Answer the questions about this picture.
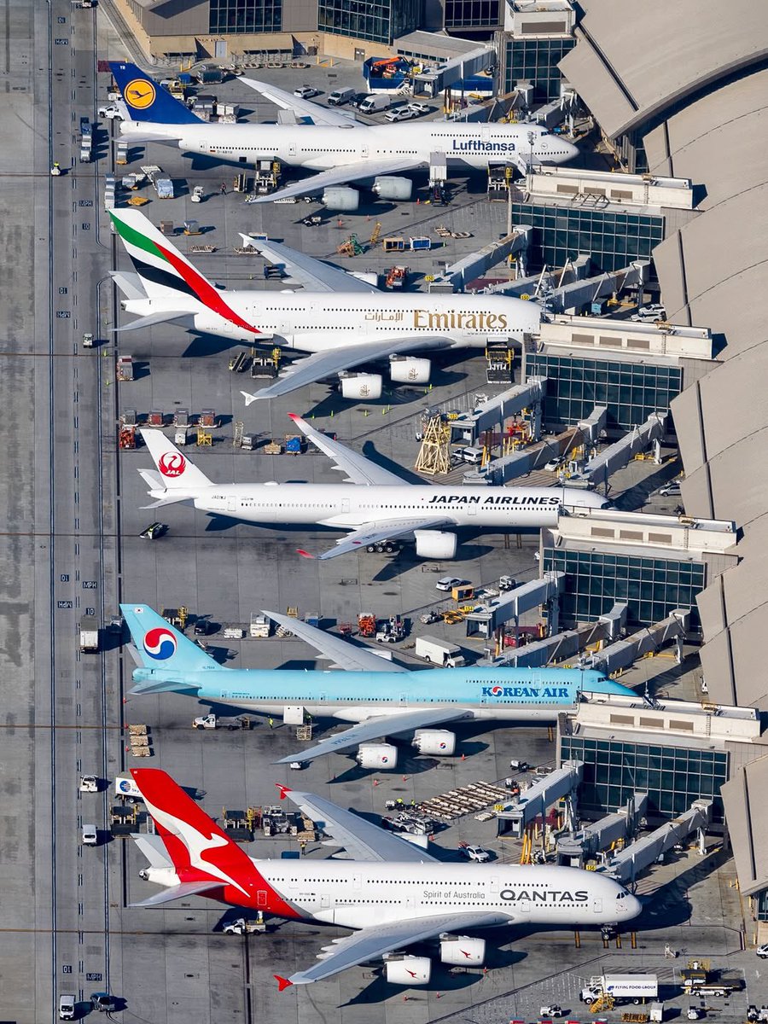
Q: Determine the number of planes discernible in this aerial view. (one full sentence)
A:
There are 5 planes in the image.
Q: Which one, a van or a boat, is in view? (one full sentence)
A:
Of the two, only a van appears.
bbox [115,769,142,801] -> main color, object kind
white truck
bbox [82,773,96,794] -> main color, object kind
white vehicle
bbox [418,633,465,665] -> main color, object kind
white van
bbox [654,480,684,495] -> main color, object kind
gray car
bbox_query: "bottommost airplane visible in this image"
[130,769,639,990]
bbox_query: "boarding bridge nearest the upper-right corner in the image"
[530,106,601,163]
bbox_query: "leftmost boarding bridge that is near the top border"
[410,46,486,120]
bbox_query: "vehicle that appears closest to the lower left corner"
[59,989,74,1019]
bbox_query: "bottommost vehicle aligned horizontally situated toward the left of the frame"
[83,992,124,1009]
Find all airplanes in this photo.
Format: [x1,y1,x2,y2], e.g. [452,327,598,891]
[130,769,639,990]
[108,208,547,400]
[109,62,576,209]
[119,603,633,768]
[138,414,616,561]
